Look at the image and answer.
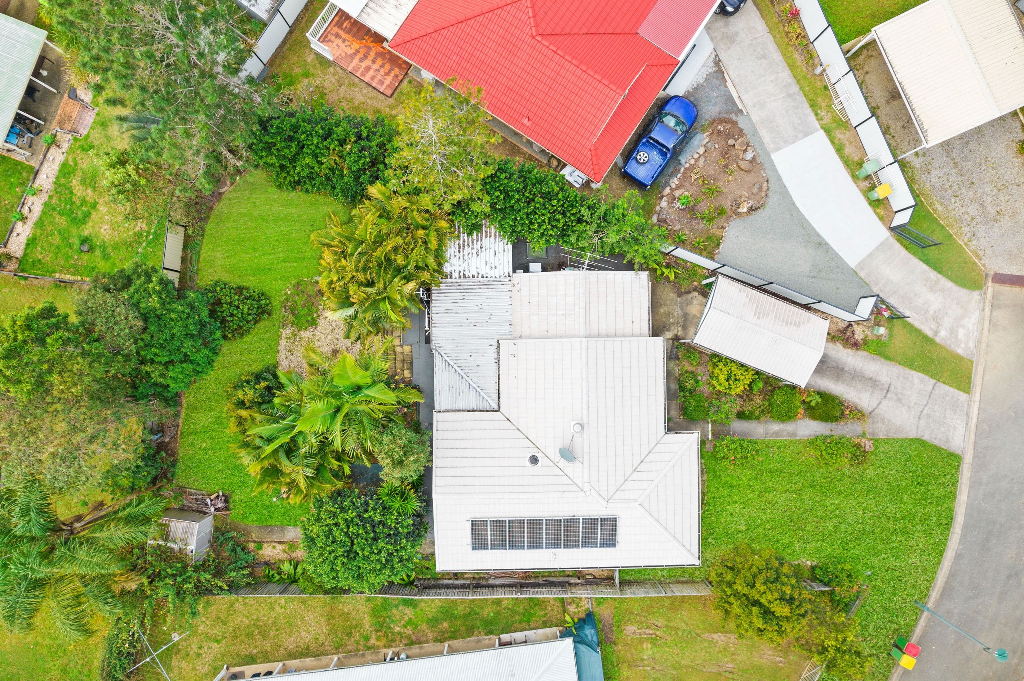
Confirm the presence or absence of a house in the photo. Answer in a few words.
Yes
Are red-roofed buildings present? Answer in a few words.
Yes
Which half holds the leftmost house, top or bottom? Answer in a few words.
top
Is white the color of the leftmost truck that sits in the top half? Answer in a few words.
No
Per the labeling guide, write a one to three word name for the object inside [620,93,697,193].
truck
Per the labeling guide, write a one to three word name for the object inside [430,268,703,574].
house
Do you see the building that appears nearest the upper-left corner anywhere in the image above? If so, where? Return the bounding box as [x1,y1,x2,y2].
[0,11,65,155]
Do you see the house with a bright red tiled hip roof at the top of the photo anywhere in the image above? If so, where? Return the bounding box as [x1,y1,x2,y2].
[387,0,681,184]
